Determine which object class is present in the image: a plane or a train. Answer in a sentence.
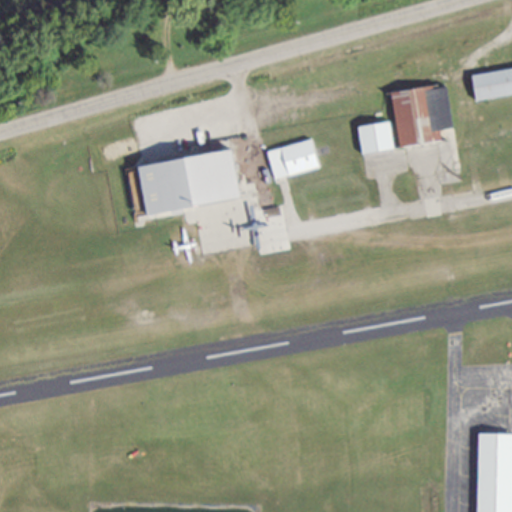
I can see a plane in this picture.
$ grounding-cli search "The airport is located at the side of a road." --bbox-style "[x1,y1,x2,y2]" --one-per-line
[0,131,512,512]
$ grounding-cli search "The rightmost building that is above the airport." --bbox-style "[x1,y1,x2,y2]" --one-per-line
[474,68,512,102]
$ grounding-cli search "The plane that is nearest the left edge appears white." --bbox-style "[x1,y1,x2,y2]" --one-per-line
[171,227,198,264]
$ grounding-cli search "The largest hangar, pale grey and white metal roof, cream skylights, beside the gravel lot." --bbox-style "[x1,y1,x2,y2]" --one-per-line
[138,150,240,214]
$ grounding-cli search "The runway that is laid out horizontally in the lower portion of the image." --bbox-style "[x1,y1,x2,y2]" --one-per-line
[0,290,512,406]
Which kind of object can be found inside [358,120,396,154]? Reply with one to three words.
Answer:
hangar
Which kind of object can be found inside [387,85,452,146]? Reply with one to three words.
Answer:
hangar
